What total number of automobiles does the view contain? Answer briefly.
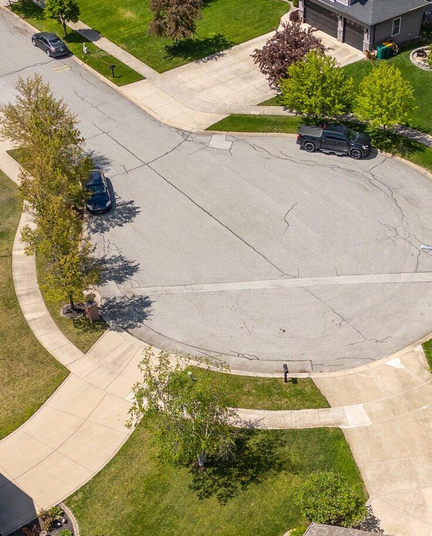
2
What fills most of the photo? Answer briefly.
paved ground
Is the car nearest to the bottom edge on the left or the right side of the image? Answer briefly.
left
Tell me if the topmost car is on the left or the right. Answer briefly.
left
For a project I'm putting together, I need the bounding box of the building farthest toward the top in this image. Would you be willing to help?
[304,0,432,54]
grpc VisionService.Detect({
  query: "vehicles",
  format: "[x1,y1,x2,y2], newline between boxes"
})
[84,167,113,210]
[297,121,373,159]
[31,28,68,53]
